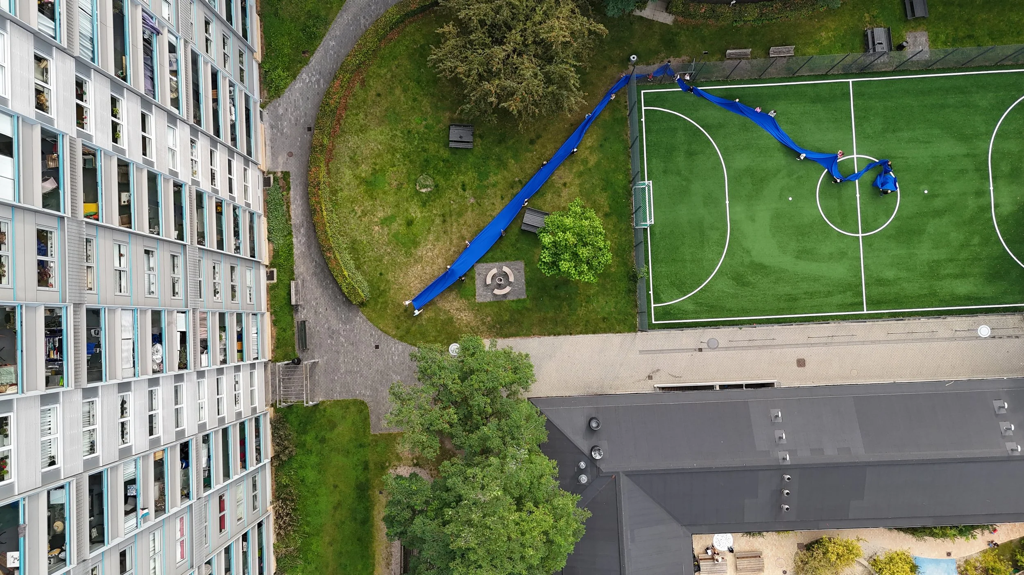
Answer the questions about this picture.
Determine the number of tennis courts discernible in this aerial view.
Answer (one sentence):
The picture shows no tennis courts.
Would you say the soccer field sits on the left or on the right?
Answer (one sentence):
The soccer field sits on the right side.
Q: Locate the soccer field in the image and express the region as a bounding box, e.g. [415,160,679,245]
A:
[626,61,1024,331]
